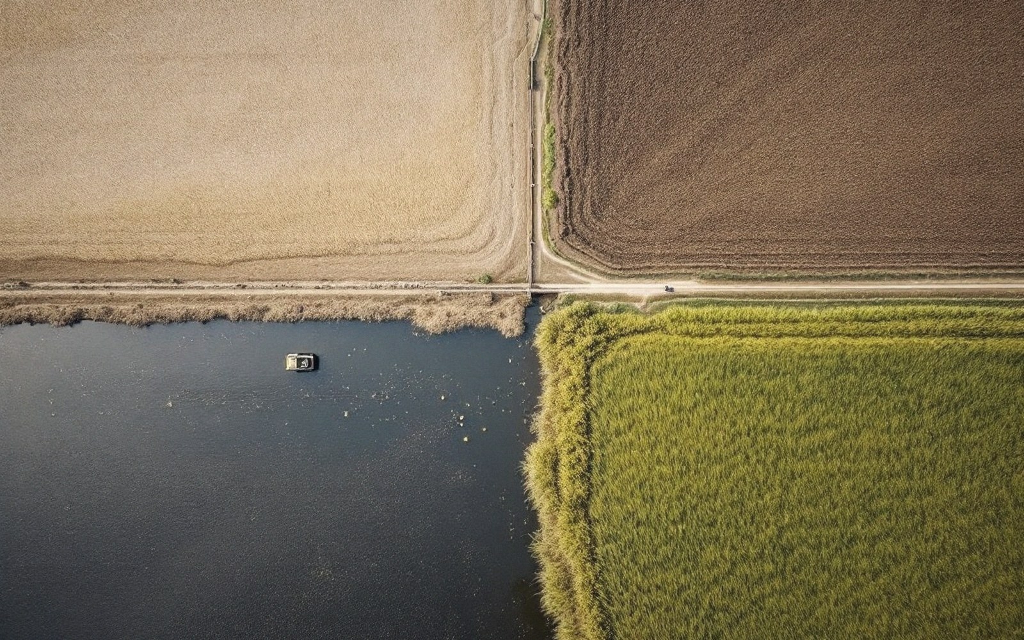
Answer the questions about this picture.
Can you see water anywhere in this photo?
Yes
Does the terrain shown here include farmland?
Yes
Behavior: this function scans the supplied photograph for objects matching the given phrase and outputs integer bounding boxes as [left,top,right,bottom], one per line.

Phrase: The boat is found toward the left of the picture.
[284,353,317,372]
